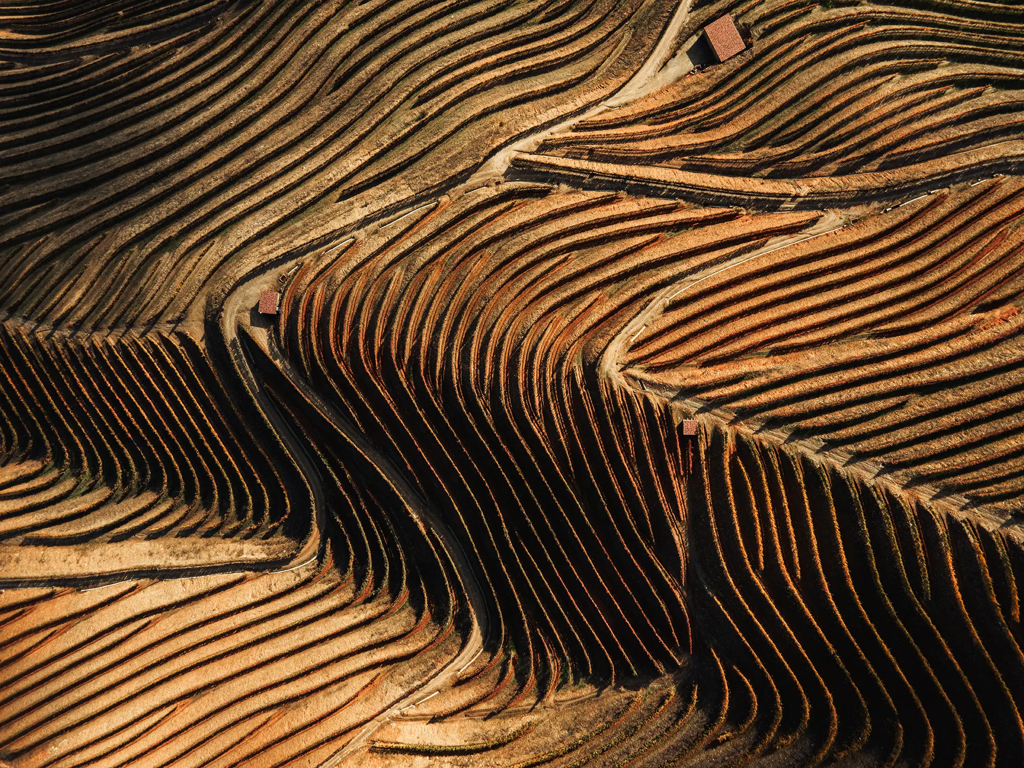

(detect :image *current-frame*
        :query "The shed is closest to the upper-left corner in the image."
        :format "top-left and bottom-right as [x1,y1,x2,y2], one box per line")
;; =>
[259,291,280,314]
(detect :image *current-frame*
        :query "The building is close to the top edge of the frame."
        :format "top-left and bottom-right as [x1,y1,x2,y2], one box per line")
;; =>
[704,13,747,63]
